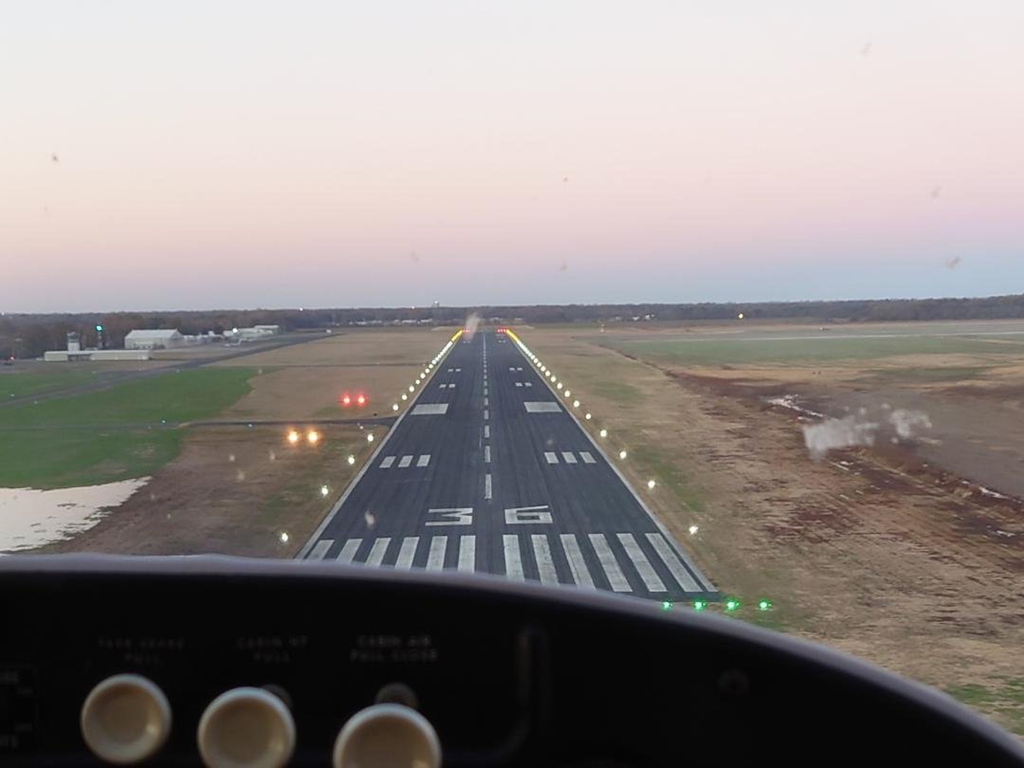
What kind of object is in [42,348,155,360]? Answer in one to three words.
building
